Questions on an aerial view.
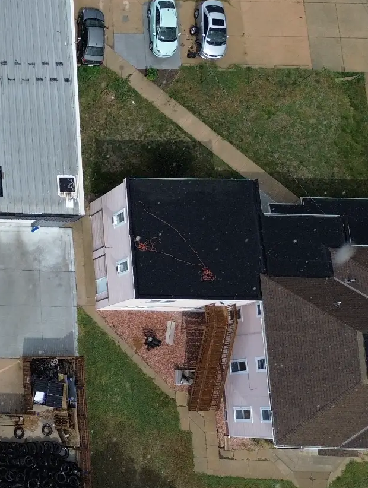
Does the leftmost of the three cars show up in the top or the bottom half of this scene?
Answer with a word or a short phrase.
top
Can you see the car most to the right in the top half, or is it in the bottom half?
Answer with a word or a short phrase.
top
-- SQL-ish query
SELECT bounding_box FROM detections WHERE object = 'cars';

[197,0,233,62]
[146,0,183,61]
[77,8,112,66]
